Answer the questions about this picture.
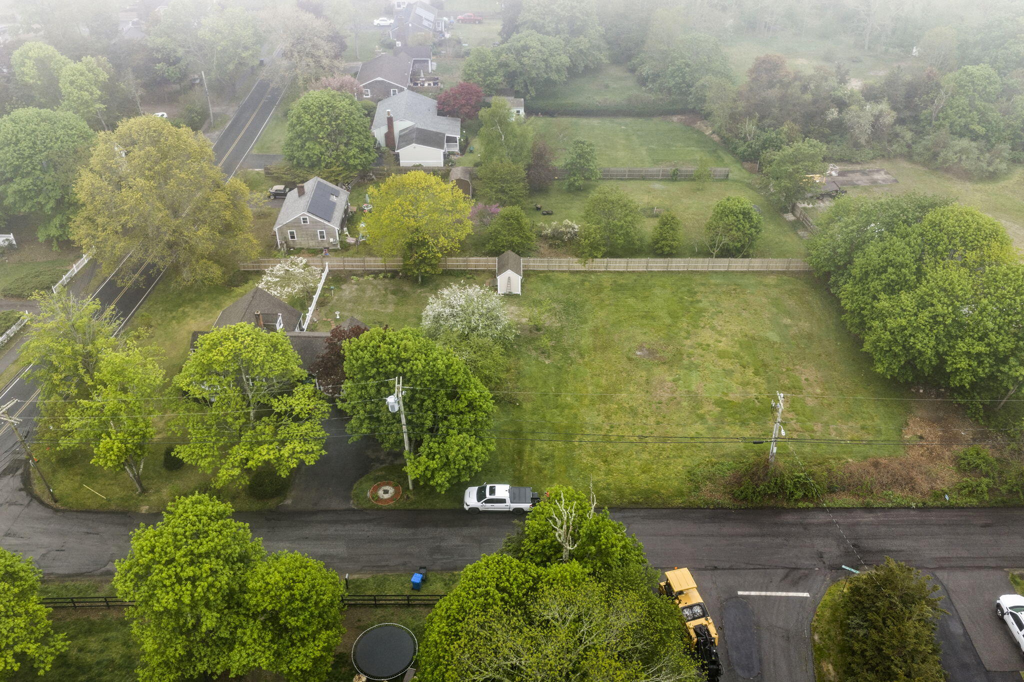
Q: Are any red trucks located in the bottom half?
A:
No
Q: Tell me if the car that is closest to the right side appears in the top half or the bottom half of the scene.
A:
bottom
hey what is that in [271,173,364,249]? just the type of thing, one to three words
house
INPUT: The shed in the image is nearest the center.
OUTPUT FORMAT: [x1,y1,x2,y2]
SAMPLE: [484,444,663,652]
[496,249,523,294]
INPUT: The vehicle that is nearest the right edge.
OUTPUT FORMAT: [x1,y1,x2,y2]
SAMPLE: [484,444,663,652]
[992,597,1024,642]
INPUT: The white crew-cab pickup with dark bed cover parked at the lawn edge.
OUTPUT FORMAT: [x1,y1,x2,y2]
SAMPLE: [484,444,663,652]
[463,482,540,515]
